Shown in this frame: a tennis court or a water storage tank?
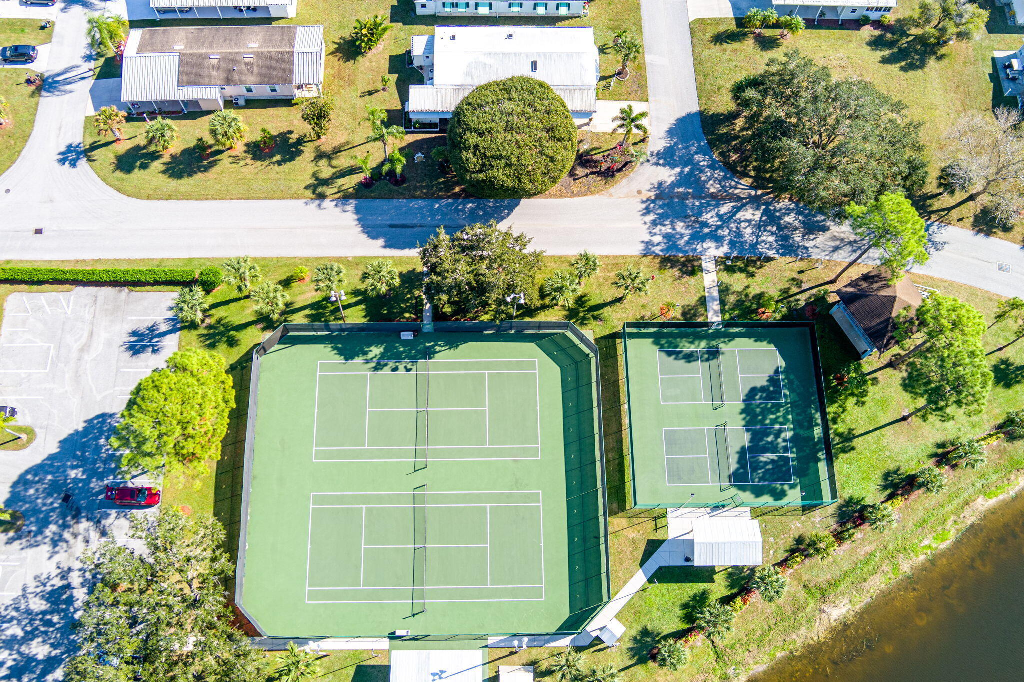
tennis court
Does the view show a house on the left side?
Yes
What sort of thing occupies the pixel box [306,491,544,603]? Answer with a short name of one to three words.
tennis court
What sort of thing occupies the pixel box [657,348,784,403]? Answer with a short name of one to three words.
sports court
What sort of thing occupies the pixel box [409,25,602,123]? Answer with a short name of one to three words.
house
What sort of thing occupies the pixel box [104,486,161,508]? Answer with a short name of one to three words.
car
